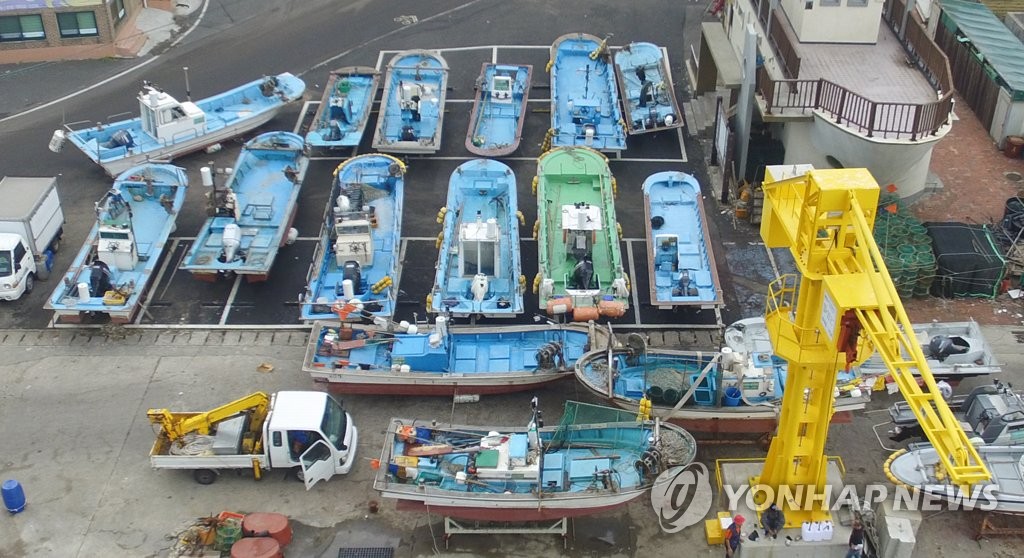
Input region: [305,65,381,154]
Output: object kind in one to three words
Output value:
boat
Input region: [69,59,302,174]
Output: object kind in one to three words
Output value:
boat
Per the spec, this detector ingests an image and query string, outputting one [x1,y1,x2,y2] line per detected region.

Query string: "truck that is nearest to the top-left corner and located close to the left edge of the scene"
[0,177,69,302]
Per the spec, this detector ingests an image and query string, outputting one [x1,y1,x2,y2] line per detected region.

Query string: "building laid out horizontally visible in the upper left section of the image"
[0,0,157,66]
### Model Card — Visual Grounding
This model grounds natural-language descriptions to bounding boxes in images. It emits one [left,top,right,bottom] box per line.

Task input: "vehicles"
[145,385,360,497]
[0,177,69,302]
